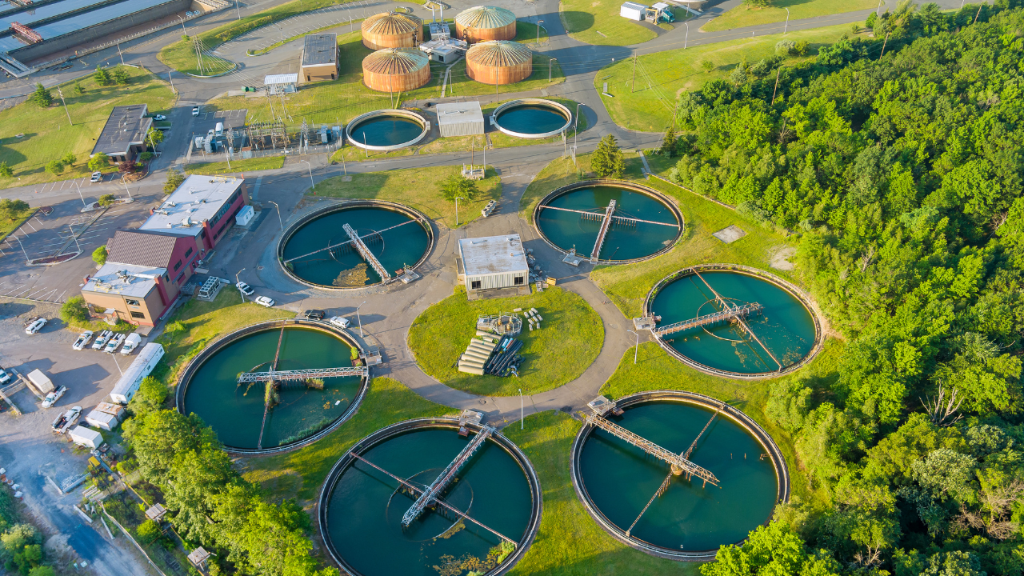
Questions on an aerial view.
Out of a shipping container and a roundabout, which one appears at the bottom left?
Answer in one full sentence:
What appears at the bottom left is a shipping container.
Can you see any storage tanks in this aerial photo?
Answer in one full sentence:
Yes, there is a storage tank in the image.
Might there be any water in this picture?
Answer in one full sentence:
Yes, water shows up in the scene.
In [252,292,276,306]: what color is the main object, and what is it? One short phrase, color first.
white car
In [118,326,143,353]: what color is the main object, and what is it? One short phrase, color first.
white truck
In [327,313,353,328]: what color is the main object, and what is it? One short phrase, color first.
white car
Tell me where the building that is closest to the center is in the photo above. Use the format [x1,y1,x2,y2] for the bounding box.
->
[452,233,531,304]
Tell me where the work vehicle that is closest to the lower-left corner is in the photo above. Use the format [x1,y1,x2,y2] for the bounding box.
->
[81,452,102,474]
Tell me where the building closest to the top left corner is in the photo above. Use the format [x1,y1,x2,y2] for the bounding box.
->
[95,103,153,166]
